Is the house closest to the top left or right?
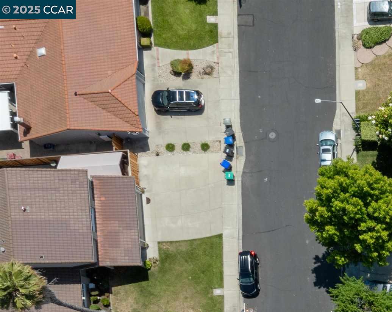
left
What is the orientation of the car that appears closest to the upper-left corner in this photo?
from left to right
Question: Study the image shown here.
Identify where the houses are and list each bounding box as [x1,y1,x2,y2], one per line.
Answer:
[0,169,153,312]
[0,0,152,146]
